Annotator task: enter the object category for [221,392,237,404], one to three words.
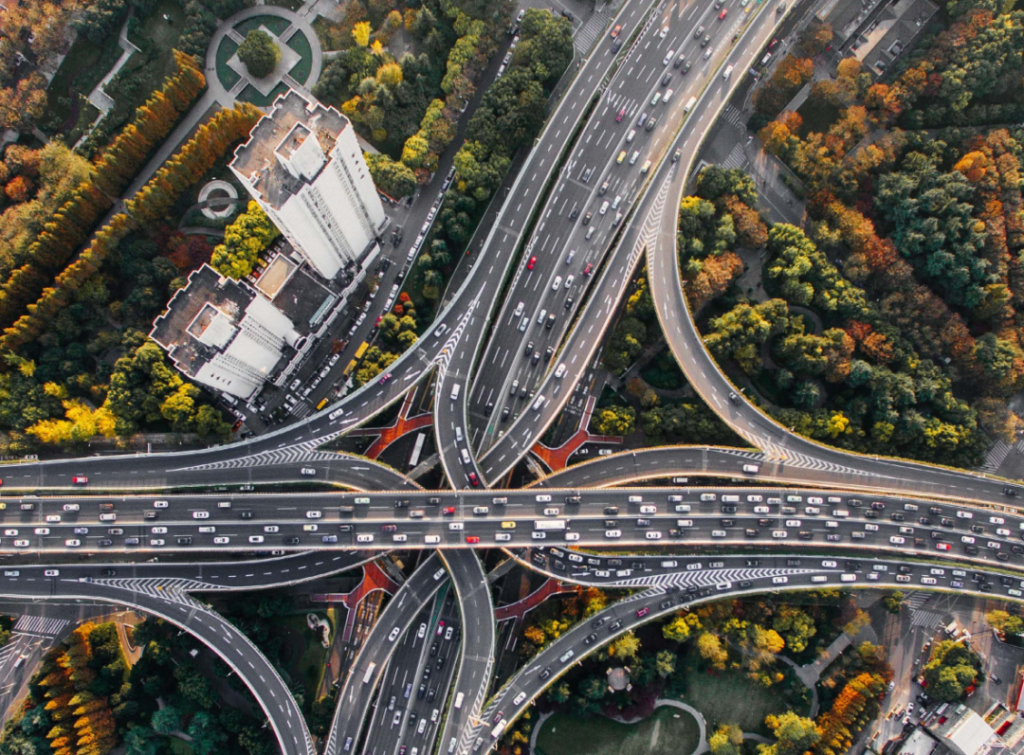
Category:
vehicle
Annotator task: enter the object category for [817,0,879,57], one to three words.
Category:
building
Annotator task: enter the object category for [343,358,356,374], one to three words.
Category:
vehicle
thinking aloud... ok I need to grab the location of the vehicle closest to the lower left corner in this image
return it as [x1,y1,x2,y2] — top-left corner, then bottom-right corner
[13,653,28,669]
